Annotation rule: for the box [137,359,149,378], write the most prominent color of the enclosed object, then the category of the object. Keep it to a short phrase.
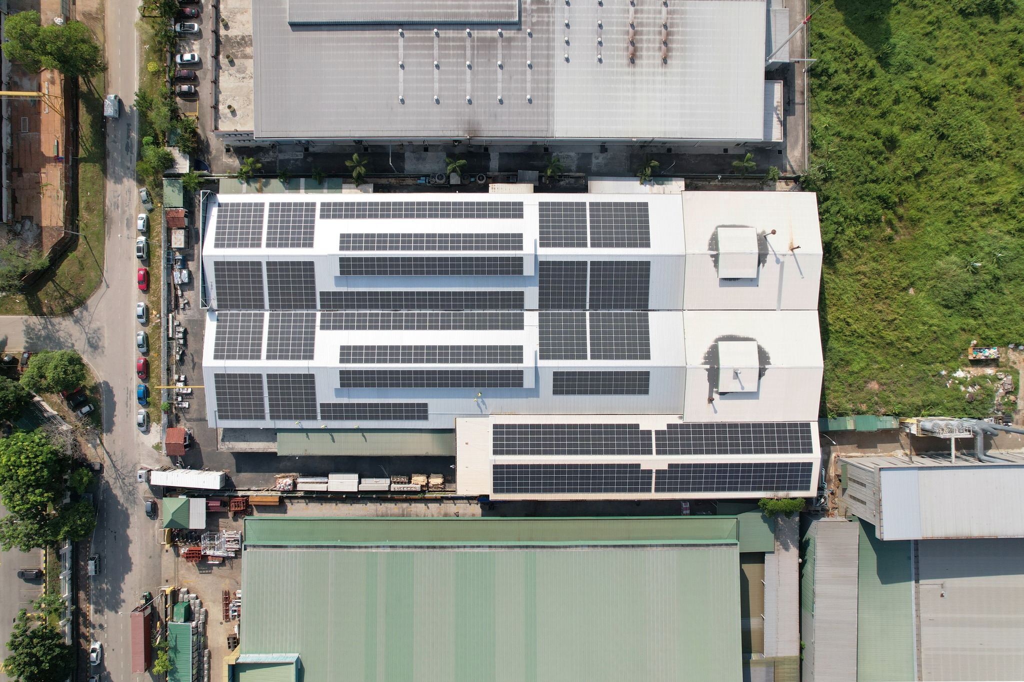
red vehicle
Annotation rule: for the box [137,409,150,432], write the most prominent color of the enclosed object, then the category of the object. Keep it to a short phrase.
gray vehicle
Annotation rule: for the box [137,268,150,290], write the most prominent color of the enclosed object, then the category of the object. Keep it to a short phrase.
red vehicle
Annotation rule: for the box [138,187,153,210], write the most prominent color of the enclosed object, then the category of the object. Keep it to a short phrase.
gray car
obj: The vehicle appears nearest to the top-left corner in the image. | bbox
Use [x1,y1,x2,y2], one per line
[102,95,121,118]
